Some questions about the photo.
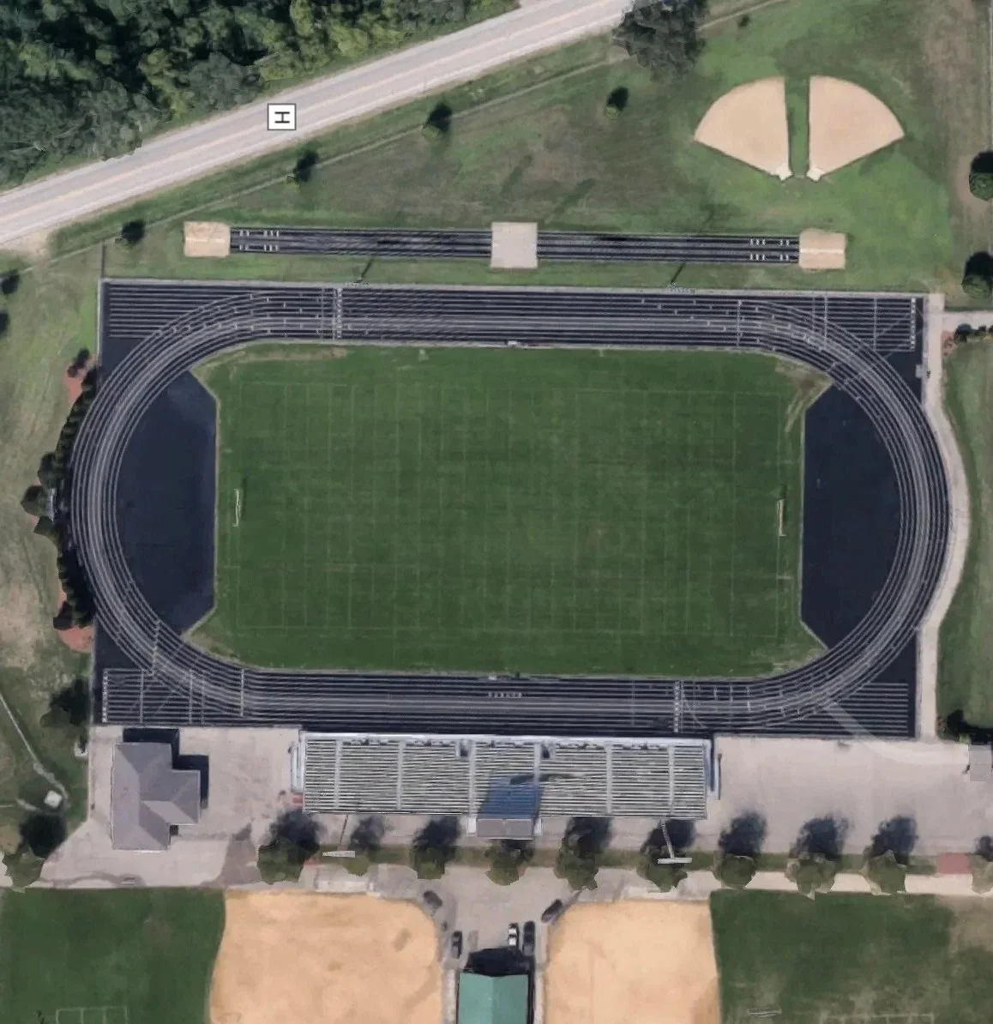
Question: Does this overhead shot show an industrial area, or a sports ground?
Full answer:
This image shows a sports ground.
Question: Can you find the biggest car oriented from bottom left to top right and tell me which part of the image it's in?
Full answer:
The biggest car oriented from bottom left to top right appears toward the bottom of the photo.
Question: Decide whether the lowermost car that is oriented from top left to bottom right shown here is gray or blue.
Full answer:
The lowermost car that is oriented from top left to bottom right is gray.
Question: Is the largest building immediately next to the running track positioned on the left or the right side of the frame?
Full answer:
The largest building immediately next to the running track appears in the left half of the scene.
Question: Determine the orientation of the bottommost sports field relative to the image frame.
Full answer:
What the image shows is the bottommost sports field lying horizontally.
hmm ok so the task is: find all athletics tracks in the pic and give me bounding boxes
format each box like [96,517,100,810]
[61,285,952,737]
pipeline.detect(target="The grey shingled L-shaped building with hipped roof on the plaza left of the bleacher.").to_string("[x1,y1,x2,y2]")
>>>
[112,740,200,850]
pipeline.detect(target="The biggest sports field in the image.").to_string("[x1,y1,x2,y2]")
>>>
[184,344,831,678]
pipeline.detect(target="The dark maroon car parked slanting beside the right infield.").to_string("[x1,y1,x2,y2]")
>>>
[542,898,564,921]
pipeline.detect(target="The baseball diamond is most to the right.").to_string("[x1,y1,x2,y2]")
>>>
[808,76,905,181]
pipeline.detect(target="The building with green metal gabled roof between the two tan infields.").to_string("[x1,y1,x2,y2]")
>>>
[459,967,529,1024]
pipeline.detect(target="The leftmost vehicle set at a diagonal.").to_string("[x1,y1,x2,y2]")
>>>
[422,888,444,910]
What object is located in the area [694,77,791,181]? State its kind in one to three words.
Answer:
baseball field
